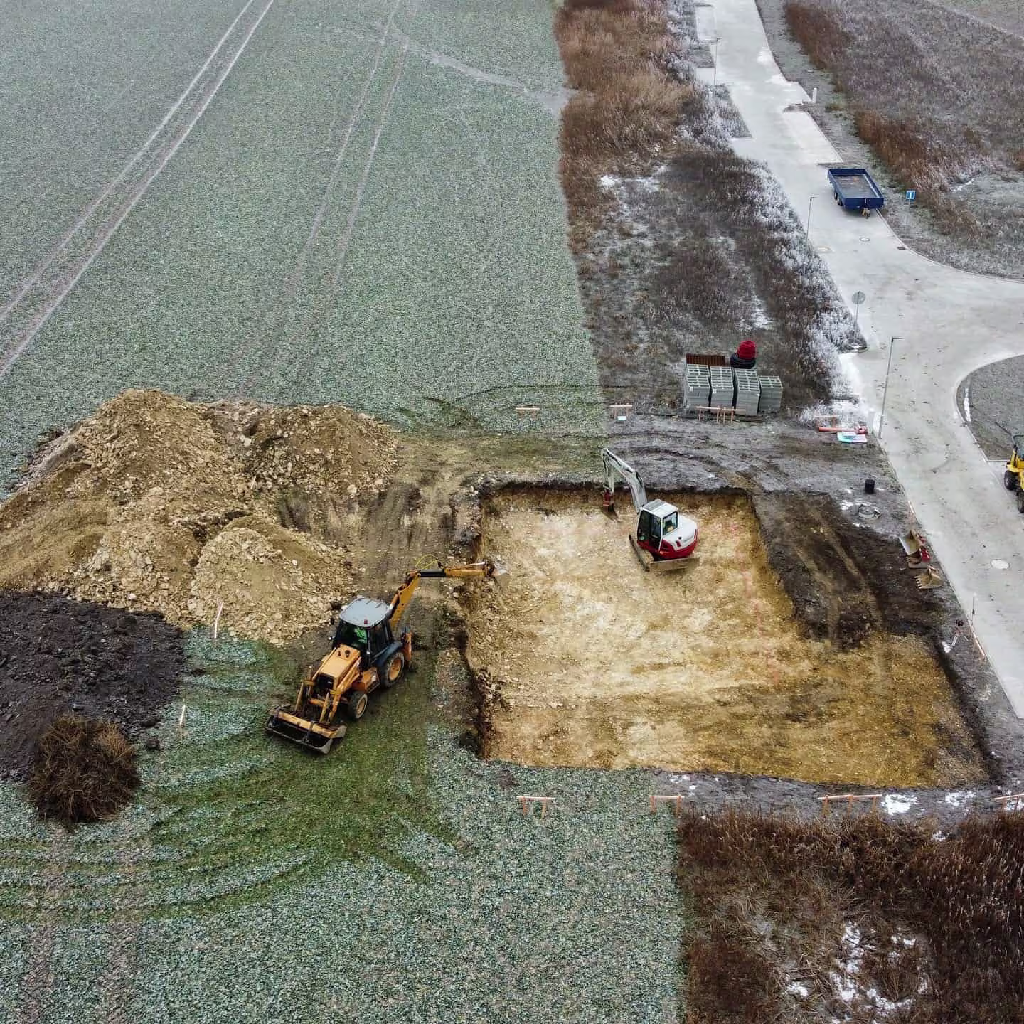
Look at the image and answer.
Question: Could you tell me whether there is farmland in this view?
Yes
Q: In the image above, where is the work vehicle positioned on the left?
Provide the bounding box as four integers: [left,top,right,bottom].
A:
[274,555,510,750]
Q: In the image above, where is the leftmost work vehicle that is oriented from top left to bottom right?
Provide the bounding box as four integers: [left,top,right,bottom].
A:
[602,445,699,575]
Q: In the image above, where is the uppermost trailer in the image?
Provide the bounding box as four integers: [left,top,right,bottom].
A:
[828,170,884,221]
